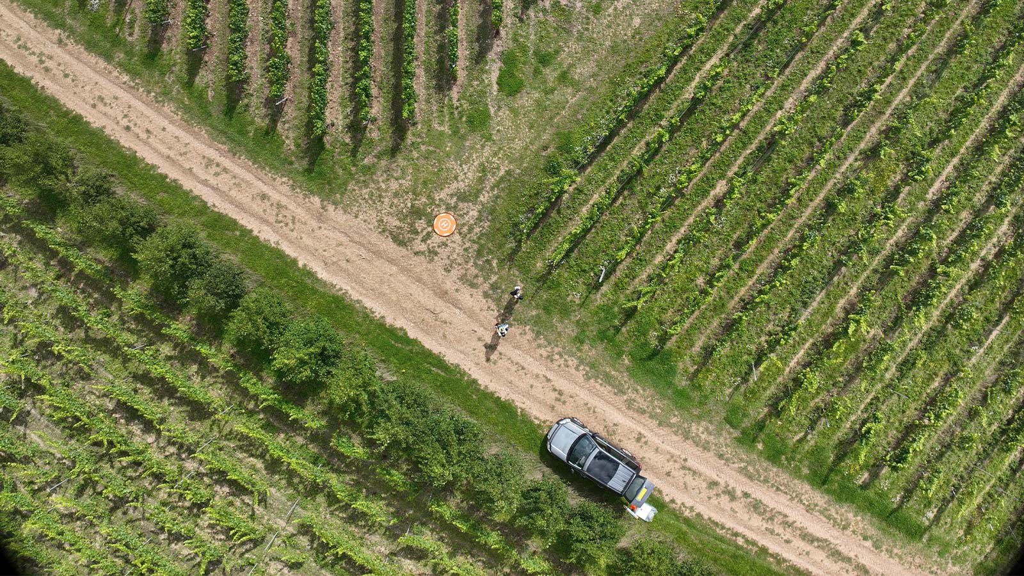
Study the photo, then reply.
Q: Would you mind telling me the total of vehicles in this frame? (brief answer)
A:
1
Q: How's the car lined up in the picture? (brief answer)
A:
on a diagonal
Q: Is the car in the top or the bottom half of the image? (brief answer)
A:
bottom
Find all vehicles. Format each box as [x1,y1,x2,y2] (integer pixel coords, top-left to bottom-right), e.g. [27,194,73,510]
[546,416,655,507]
